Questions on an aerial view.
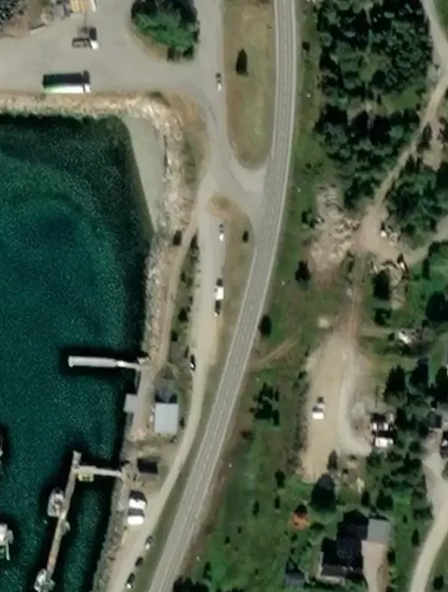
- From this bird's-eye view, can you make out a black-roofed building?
Yes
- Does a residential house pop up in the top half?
No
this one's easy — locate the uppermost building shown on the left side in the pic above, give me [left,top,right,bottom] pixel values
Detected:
[152,404,179,434]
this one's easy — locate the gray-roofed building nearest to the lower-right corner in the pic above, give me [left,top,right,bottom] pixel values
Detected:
[368,519,390,542]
